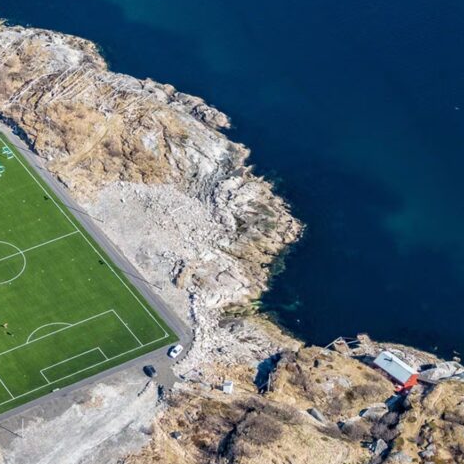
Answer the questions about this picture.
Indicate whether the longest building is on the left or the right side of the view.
right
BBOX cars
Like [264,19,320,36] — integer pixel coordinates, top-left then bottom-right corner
[143,364,156,377]
[170,344,183,357]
